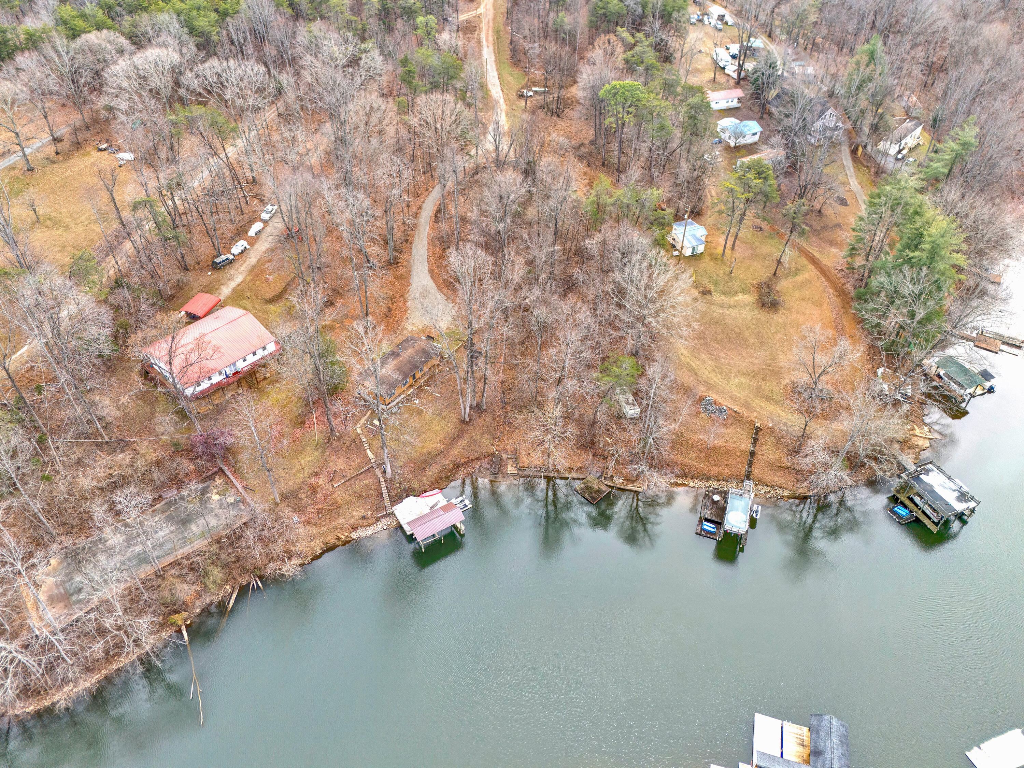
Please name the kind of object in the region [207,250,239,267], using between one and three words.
car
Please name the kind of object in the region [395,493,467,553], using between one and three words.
pier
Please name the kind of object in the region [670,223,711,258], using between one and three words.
house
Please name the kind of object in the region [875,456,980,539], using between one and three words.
pier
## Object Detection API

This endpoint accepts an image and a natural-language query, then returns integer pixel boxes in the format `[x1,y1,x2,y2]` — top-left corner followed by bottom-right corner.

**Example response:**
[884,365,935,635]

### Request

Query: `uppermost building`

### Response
[708,5,730,27]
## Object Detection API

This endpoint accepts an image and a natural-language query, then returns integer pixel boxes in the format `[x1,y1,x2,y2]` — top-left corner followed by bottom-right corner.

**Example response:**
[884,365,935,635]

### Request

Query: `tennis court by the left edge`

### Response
[40,477,250,620]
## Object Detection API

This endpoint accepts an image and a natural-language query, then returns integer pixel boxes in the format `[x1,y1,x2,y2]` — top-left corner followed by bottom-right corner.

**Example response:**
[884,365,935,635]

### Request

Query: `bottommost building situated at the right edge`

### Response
[920,356,987,401]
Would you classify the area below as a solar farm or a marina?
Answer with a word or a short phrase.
marina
